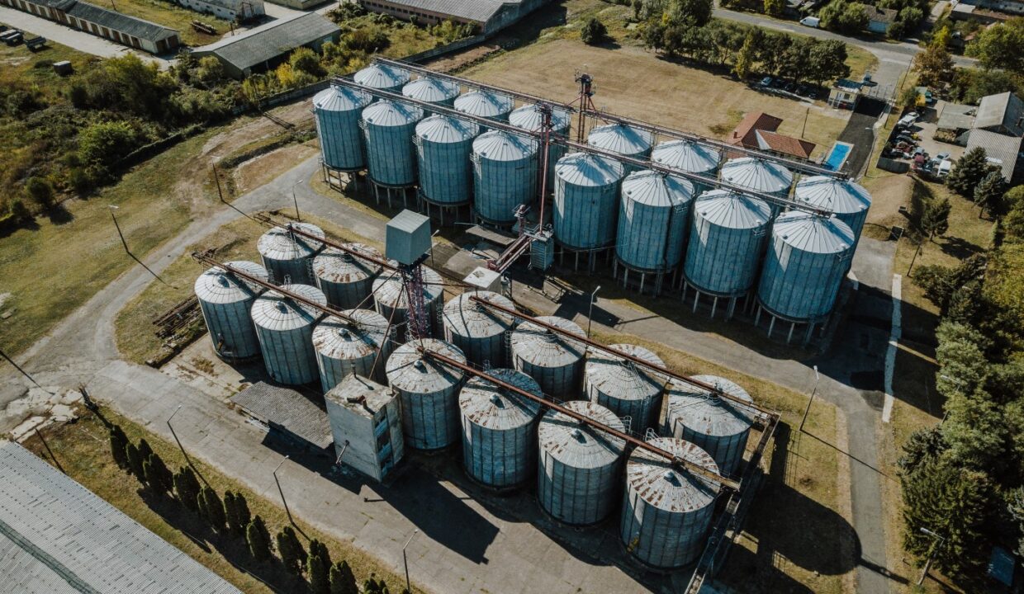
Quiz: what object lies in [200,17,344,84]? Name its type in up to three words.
shed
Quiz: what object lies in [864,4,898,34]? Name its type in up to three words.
house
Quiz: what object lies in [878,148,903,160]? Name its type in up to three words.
vehicle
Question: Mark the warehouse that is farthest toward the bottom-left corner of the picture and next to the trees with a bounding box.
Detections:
[0,440,245,594]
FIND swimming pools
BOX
[824,139,854,168]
